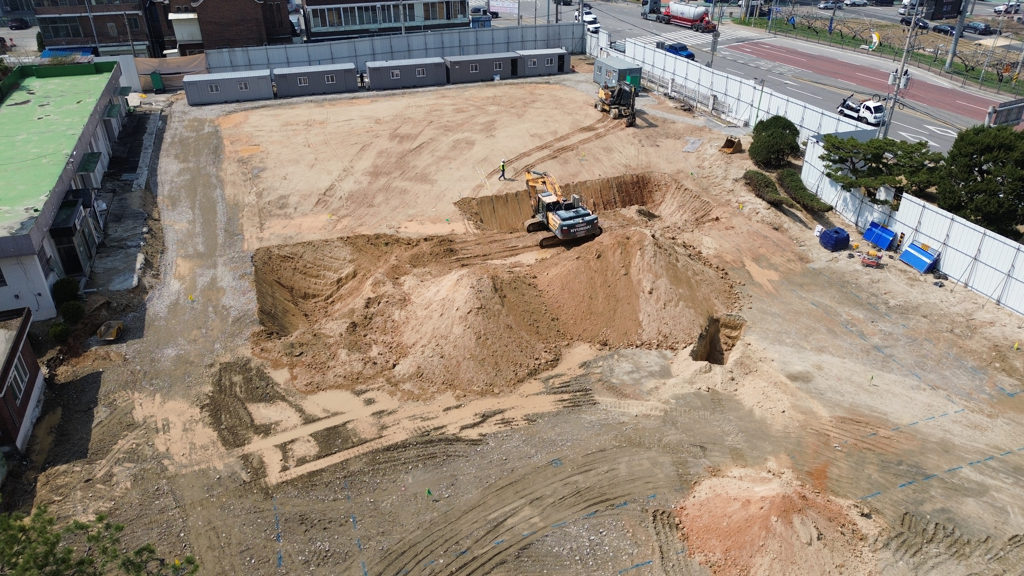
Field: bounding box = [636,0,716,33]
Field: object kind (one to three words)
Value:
truck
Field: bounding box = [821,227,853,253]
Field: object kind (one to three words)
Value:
water tank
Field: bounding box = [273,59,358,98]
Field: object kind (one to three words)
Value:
building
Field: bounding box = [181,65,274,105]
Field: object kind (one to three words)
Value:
building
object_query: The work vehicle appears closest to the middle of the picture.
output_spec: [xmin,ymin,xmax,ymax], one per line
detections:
[521,166,601,248]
